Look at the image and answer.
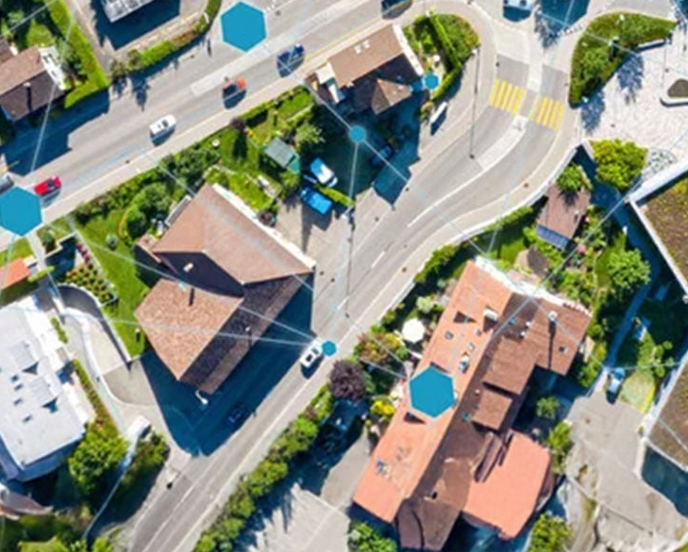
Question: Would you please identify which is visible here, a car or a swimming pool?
car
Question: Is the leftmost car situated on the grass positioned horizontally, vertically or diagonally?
diagonally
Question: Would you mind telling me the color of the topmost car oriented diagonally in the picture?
blue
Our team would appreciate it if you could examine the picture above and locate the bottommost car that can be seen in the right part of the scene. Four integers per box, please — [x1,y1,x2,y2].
[608,368,624,395]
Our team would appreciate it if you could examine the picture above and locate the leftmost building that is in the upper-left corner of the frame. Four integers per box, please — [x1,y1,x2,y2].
[0,39,74,120]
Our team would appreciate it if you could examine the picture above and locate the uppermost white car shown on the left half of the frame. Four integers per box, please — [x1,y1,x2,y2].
[149,117,176,137]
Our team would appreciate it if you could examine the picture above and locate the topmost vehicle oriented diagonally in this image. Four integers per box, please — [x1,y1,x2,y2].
[277,46,303,67]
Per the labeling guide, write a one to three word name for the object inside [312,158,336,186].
car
